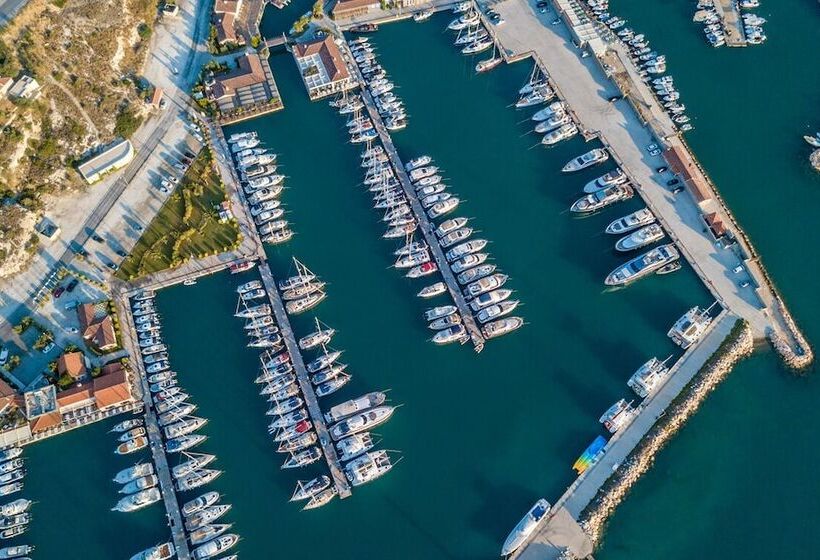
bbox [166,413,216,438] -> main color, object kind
white boat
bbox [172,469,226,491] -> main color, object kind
white boat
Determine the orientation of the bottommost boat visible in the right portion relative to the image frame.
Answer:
on a diagonal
